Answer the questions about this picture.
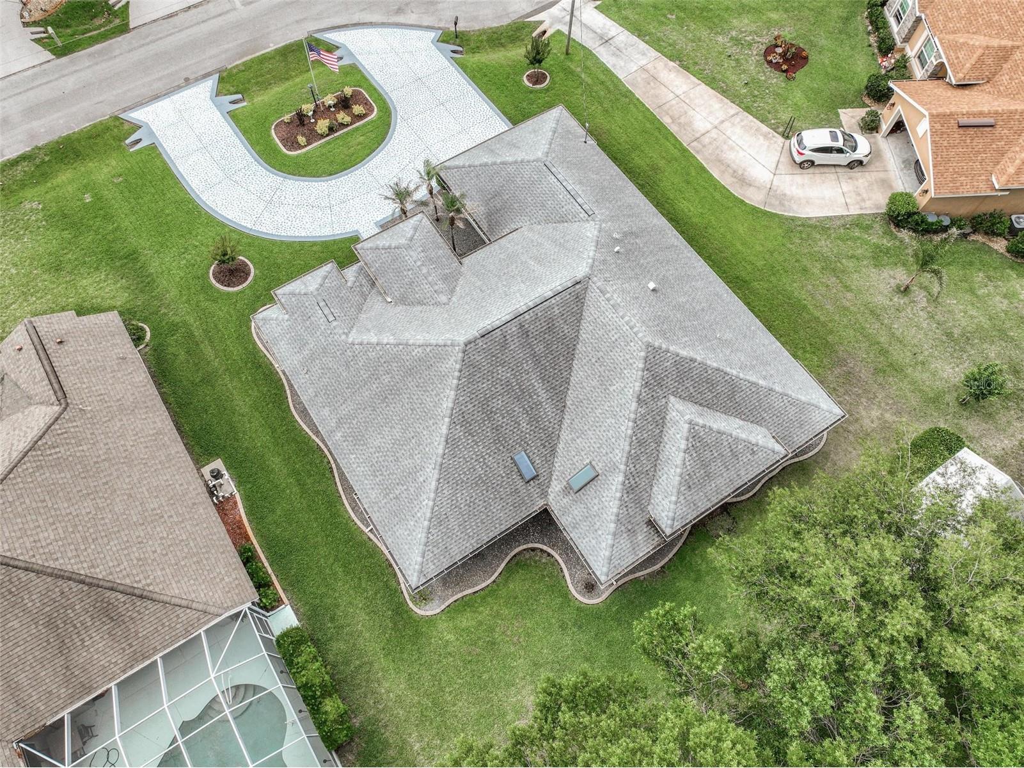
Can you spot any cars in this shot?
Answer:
Yes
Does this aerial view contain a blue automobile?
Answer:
No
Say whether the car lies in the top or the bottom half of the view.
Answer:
top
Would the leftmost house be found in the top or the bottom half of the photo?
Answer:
bottom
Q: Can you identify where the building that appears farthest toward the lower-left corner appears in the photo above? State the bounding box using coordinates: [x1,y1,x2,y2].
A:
[0,311,262,768]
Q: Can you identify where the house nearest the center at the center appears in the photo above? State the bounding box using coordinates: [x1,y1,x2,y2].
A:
[246,103,851,603]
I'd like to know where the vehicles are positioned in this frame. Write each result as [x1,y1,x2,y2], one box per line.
[787,127,874,170]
